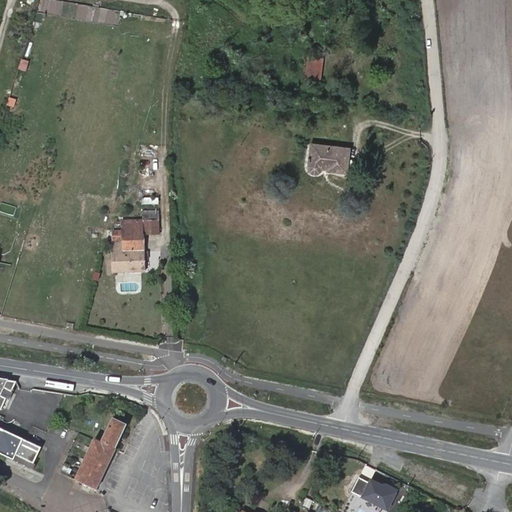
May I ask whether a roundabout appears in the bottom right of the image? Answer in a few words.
No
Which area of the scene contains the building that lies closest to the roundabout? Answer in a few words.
bottom left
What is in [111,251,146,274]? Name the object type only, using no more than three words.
house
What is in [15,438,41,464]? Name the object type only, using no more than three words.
building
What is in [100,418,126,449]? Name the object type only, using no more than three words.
building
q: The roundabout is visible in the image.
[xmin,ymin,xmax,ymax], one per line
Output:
[120,362,270,452]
